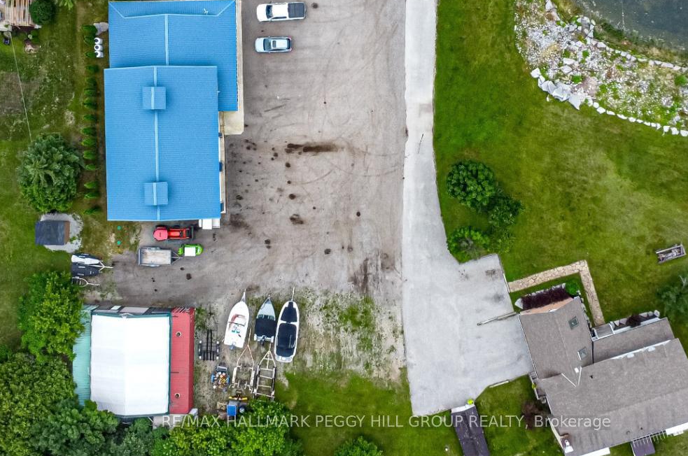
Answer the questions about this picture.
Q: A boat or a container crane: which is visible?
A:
boat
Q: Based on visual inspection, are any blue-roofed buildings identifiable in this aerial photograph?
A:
Yes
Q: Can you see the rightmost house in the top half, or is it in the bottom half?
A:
bottom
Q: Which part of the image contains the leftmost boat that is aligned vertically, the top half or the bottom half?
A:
bottom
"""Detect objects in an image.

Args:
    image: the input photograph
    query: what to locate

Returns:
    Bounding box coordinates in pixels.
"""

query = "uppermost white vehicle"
[257,0,306,21]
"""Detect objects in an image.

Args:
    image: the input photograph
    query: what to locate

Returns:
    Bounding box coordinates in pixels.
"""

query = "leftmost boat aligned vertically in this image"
[223,289,248,351]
